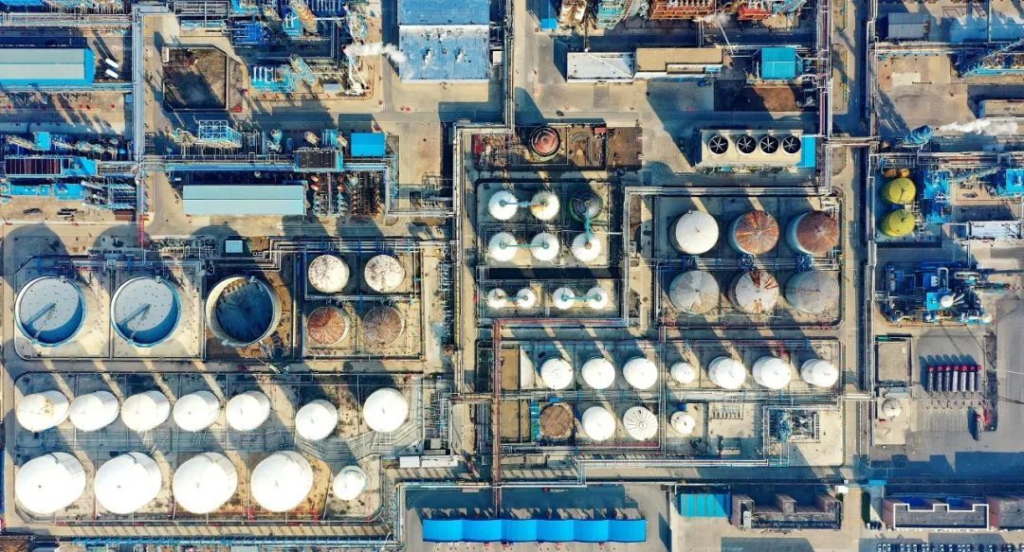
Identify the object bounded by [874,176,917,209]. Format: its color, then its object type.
yellow storage tank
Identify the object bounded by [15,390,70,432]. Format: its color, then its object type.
white storage tank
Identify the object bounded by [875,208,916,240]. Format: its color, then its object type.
yellow storage tank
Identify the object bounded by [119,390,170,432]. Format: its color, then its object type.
white storage tank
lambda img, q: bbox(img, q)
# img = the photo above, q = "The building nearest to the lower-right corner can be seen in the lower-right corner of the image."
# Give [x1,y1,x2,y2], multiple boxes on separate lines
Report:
[990,496,1024,528]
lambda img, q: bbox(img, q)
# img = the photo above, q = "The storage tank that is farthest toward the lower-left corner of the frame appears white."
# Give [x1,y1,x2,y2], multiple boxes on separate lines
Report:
[13,452,87,515]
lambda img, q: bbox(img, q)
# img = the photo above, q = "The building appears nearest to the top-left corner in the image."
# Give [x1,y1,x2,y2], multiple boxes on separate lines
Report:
[0,46,93,85]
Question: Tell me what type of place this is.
industrial area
